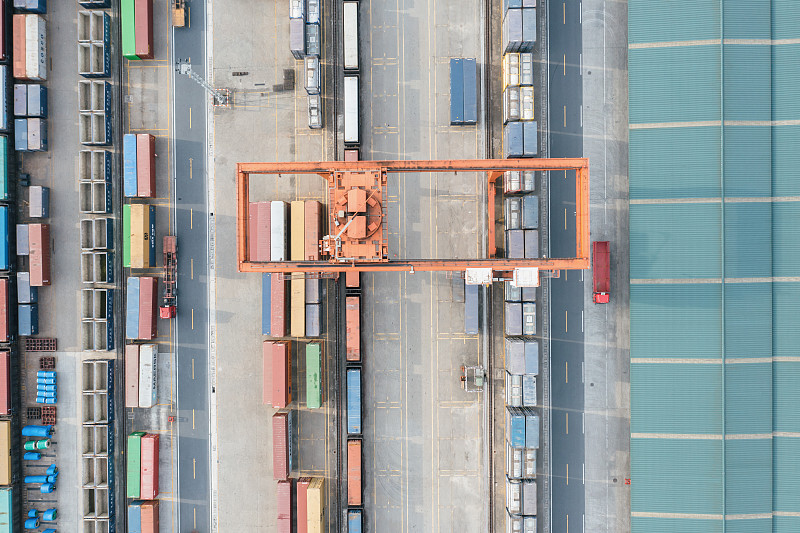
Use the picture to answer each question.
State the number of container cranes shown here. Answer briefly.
one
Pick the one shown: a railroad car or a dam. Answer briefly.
railroad car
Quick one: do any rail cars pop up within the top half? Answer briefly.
Yes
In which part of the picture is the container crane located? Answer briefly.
center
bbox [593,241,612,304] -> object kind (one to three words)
vehicle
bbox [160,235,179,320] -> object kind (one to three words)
vehicle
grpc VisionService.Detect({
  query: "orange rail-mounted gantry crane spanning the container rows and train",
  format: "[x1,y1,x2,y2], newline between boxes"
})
[238,158,591,288]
